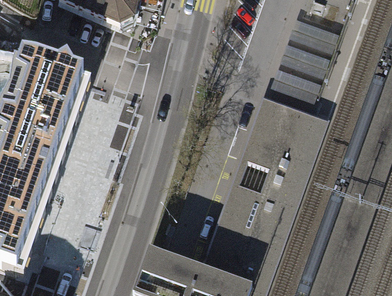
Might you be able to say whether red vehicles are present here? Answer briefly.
Yes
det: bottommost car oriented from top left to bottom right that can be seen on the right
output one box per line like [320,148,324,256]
[230,19,250,38]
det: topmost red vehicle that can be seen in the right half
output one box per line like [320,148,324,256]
[236,6,256,26]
